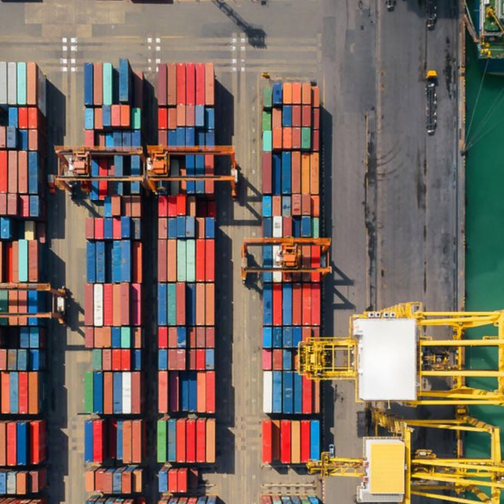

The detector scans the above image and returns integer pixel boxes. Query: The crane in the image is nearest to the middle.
[235,235,333,289]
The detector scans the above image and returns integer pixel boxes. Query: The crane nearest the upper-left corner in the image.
[49,144,153,205]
